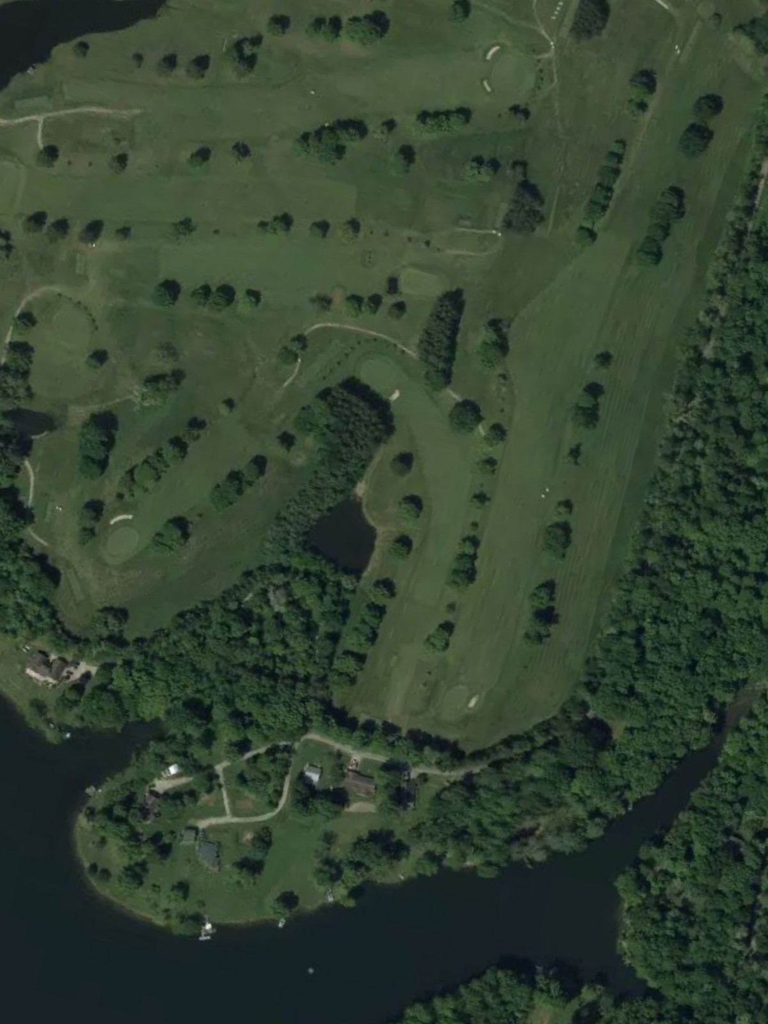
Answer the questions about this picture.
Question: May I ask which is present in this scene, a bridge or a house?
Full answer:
Visible in the photo is a house.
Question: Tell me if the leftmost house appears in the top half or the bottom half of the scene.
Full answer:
You can find the leftmost house in the bottom half.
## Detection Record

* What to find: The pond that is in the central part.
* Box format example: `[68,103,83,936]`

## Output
[304,500,372,573]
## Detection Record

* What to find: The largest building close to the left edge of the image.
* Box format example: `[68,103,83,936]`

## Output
[30,653,66,683]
